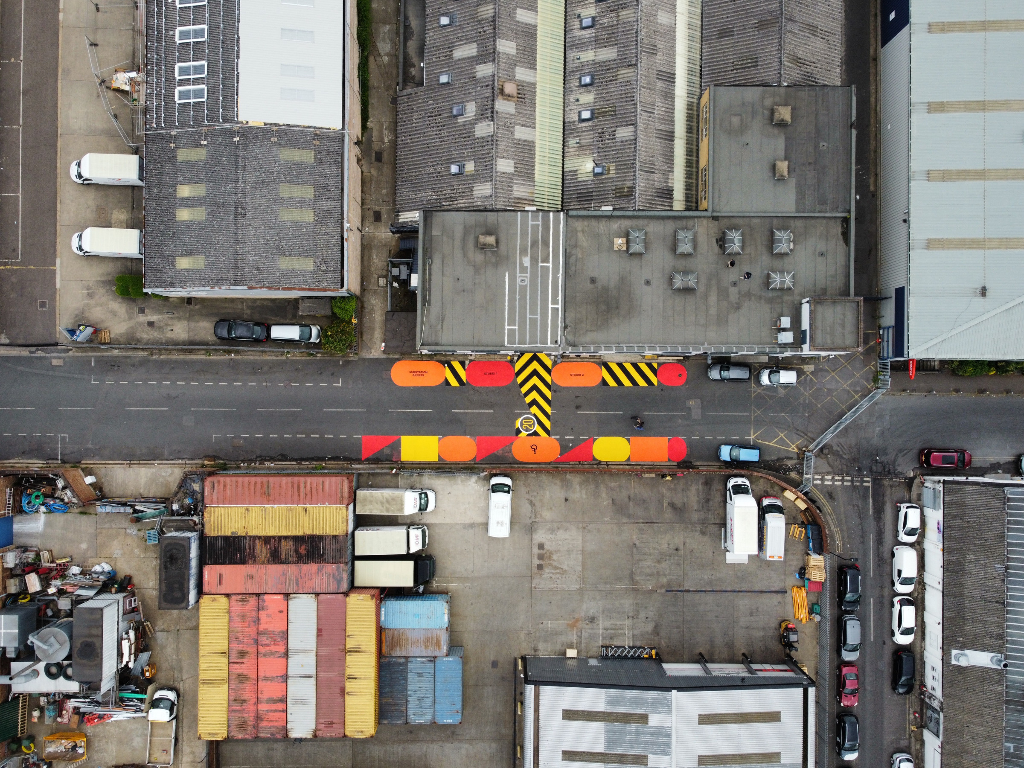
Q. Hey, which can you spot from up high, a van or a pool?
van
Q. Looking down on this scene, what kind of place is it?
industrial area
